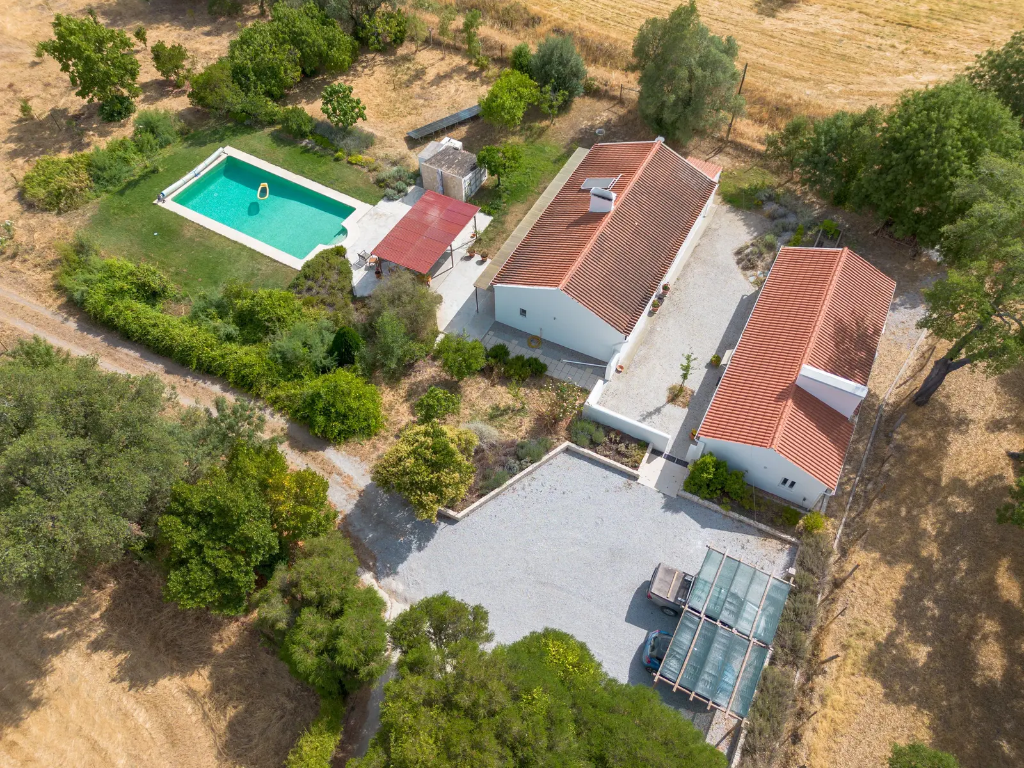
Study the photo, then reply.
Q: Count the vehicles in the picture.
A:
2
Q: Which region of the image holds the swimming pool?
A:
top left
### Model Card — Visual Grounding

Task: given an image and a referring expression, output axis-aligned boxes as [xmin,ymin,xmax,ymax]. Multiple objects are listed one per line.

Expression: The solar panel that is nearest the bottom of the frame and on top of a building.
[580,170,631,192]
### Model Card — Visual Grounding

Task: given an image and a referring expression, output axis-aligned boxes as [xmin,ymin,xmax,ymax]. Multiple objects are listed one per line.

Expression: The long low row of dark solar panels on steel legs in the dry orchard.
[407,105,487,146]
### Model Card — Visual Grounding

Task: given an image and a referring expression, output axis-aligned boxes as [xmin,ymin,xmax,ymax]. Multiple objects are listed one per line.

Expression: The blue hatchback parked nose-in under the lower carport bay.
[638,627,674,670]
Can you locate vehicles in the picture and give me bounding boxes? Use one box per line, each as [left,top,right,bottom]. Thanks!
[638,627,674,670]
[644,563,743,635]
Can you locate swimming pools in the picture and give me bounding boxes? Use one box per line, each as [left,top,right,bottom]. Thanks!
[160,150,366,264]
